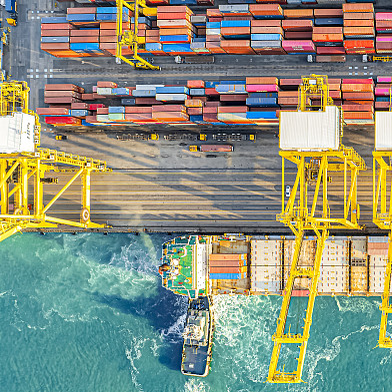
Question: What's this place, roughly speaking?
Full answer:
What you see here is a port.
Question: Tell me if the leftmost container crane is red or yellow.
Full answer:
In this view, the leftmost container crane is yellow.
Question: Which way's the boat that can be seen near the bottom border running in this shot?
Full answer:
Seen from above, the boat that can be seen near the bottom border lies vertically.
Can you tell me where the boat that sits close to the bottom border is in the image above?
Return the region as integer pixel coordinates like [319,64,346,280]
[180,298,212,377]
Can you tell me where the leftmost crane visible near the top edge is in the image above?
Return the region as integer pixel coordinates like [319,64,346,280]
[114,0,160,71]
